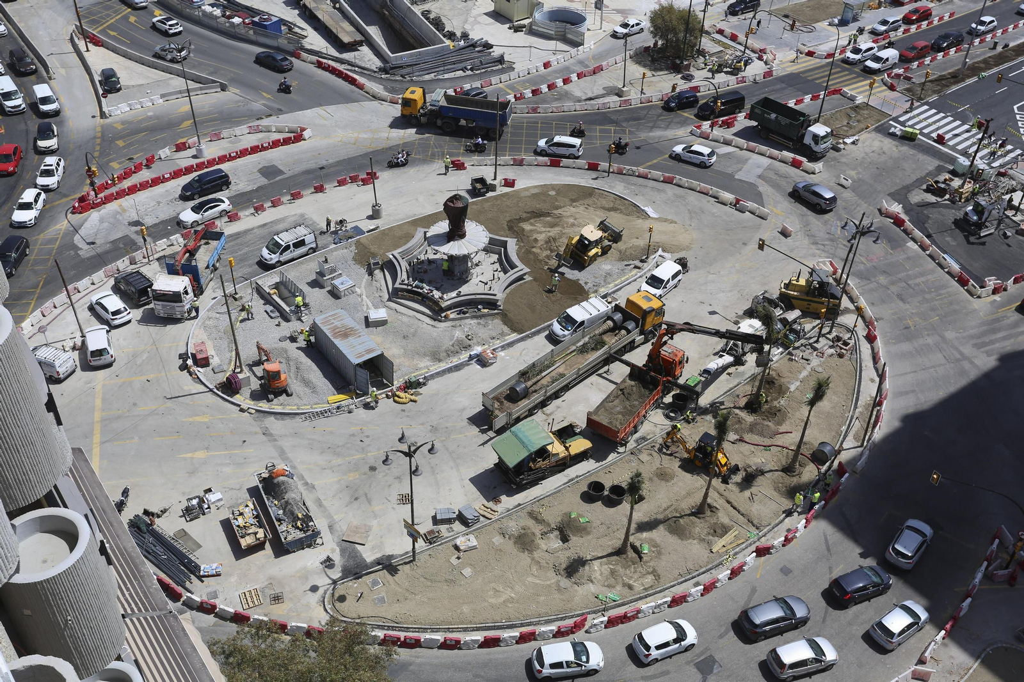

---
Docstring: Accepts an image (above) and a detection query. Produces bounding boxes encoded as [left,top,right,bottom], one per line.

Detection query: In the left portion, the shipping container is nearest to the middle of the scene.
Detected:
[310,306,390,390]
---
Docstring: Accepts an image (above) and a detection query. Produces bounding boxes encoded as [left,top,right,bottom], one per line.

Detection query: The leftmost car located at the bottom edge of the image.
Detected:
[532,642,601,682]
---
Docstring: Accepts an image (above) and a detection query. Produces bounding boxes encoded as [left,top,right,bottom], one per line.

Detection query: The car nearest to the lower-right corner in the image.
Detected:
[866,602,929,656]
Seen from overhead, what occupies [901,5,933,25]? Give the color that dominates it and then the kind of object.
red car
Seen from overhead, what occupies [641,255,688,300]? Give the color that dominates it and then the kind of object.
white van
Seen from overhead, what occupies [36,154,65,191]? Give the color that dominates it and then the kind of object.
white car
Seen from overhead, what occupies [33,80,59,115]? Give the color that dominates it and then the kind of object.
white vehicle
